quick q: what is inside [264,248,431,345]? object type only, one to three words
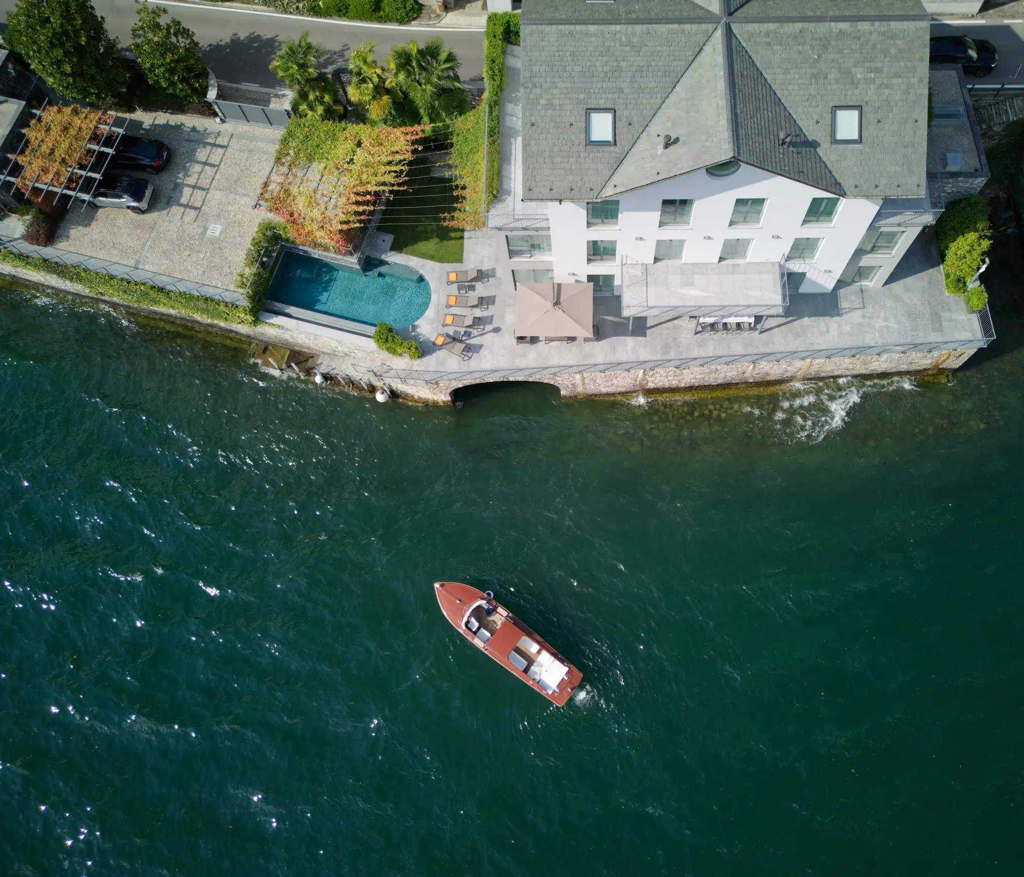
swimming pool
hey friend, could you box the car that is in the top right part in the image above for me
[928,36,998,78]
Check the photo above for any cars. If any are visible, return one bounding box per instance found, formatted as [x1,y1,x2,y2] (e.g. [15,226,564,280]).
[76,167,154,212]
[89,132,169,175]
[928,36,998,78]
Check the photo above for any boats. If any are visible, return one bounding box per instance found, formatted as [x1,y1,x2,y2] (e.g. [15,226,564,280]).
[433,581,583,707]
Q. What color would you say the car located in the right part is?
black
